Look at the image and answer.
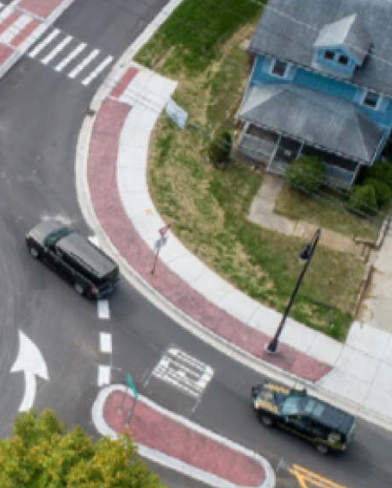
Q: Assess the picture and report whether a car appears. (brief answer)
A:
Yes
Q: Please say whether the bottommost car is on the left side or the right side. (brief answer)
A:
right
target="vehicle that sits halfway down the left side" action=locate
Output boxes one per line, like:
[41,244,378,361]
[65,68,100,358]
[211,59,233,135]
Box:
[20,214,124,297]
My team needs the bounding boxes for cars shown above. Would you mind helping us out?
[20,214,124,297]
[248,376,367,461]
